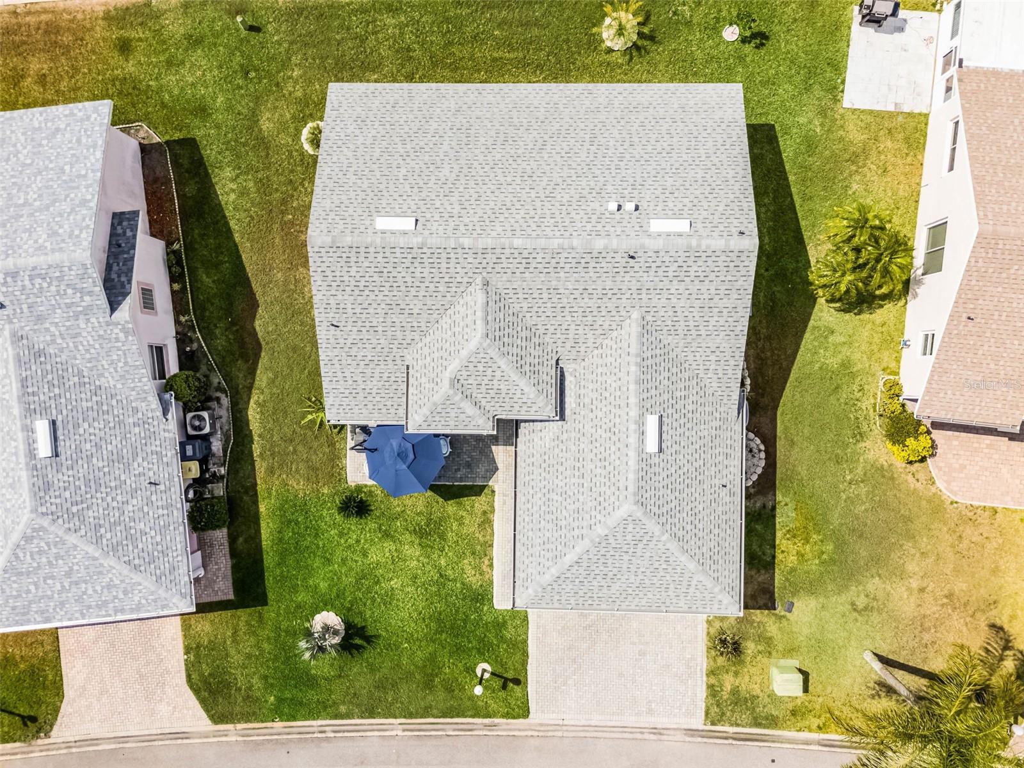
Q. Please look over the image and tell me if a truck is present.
No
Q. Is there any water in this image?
No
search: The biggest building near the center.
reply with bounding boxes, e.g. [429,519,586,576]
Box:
[306,80,760,618]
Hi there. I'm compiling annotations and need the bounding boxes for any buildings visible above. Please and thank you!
[306,80,760,618]
[898,0,1024,432]
[0,99,208,633]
